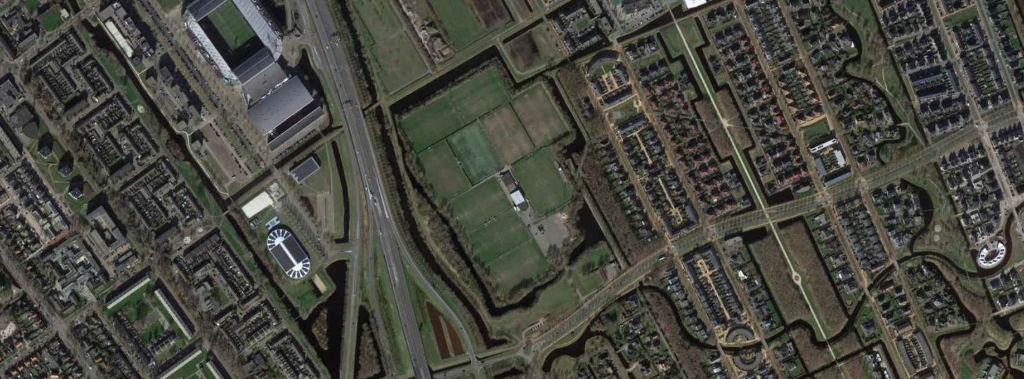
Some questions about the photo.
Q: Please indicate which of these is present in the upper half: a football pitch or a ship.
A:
football pitch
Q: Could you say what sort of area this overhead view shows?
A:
residential area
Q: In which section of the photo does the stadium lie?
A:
top left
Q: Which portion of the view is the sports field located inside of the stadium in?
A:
top left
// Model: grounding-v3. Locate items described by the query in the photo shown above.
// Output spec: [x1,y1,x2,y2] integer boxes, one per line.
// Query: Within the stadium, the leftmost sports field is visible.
[206,6,256,60]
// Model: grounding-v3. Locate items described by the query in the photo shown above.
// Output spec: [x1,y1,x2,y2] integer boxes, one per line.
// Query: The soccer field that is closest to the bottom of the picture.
[487,241,549,293]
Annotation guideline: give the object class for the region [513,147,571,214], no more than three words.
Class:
soccer field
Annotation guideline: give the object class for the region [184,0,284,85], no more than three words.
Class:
stadium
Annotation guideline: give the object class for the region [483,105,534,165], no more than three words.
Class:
soccer field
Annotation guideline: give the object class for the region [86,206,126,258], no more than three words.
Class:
building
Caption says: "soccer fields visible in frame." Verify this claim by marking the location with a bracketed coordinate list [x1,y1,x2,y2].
[513,147,571,214]
[513,85,568,146]
[471,212,531,265]
[402,96,464,153]
[452,176,511,231]
[483,105,534,165]
[448,66,511,122]
[487,241,549,293]
[446,121,502,185]
[419,141,470,201]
